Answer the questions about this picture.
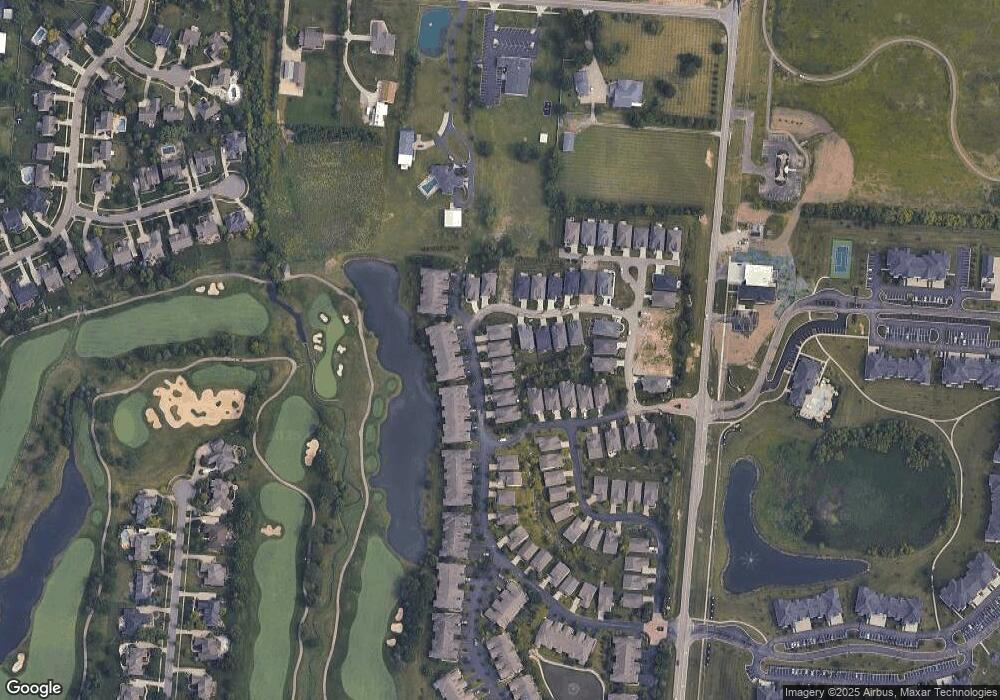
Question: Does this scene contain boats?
No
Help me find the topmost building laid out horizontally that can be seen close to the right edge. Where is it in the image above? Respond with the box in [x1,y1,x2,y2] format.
[888,249,951,279]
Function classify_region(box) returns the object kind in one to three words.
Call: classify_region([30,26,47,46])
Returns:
swimming pool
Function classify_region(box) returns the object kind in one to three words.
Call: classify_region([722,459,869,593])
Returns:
pond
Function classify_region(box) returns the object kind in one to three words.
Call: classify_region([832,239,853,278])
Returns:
sports court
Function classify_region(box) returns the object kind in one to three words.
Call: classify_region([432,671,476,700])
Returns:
house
